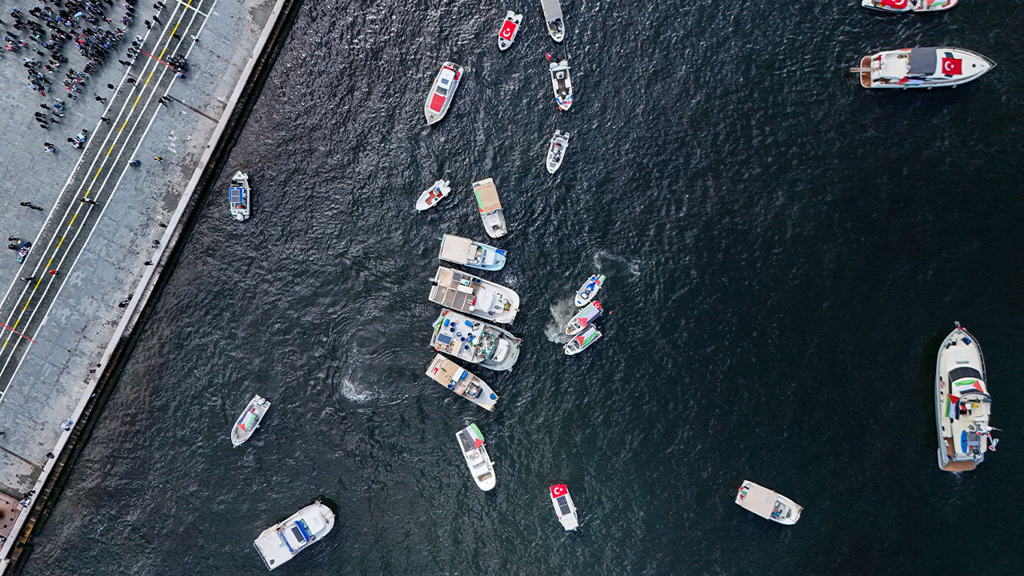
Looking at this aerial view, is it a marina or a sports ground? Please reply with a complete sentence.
The area seen from above is a marina.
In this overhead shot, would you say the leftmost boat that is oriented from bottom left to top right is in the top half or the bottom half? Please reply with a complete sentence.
Seen from above, the leftmost boat that is oriented from bottom left to top right lies in the bottom half of the view.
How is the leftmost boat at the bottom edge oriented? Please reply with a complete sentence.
I'd say the leftmost boat at the bottom edge is aligned on a diagonal in the picture.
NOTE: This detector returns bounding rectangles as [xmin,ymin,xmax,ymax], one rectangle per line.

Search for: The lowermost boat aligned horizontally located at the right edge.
[845,47,1001,90]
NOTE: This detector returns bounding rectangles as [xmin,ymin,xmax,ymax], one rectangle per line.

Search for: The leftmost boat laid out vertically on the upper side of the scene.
[230,168,252,222]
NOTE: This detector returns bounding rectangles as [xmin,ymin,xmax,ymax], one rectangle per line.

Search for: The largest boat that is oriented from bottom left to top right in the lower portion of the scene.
[253,501,336,569]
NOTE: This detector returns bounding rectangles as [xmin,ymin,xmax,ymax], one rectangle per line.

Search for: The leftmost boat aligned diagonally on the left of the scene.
[230,391,273,447]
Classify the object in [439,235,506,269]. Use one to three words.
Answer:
boat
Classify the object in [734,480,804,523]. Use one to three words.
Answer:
boat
